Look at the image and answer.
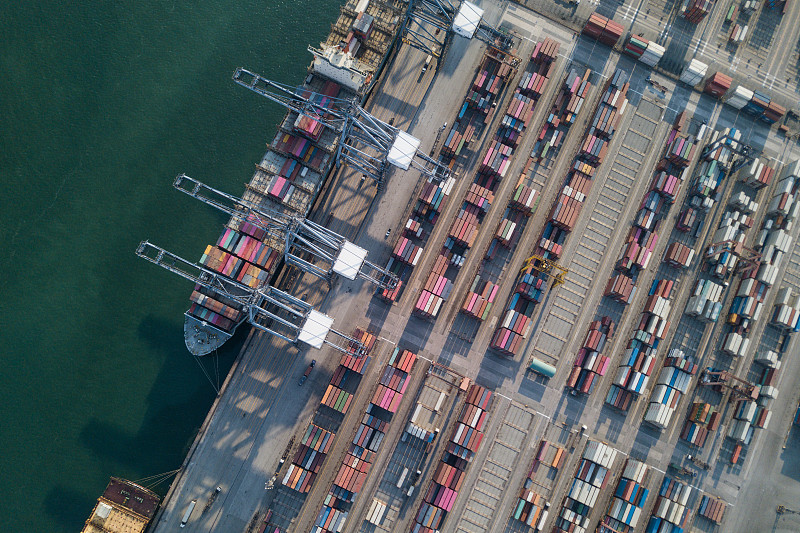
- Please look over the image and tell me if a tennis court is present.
No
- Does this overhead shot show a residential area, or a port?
port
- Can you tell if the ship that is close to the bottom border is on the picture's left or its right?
left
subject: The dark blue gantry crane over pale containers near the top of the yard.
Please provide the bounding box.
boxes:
[698,134,758,175]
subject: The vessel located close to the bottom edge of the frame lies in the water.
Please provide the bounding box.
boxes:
[80,474,166,533]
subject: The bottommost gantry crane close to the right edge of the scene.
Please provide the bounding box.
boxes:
[696,370,761,399]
